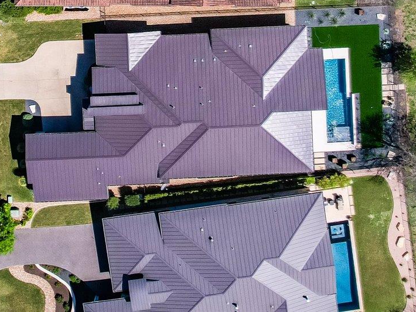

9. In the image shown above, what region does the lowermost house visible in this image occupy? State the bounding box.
[83,188,338,312]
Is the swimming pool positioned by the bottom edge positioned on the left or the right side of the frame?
right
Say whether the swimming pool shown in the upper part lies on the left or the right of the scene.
right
